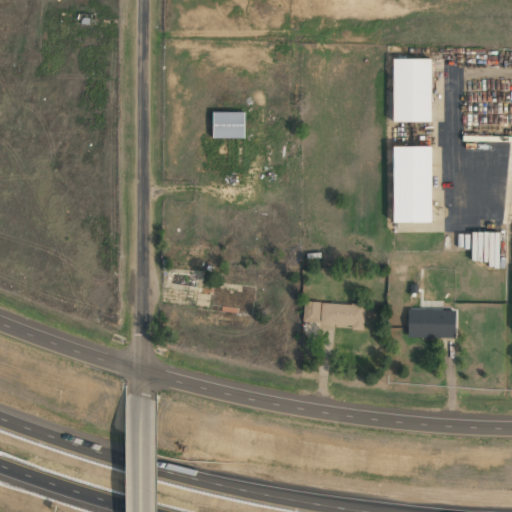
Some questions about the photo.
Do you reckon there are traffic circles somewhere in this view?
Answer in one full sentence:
No, no traffic circle is visible in the scene.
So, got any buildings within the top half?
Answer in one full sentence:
Yes, a building is visible within the top half.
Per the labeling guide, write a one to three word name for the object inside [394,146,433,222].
building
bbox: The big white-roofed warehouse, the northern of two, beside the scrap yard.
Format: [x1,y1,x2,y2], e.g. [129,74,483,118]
[394,58,433,122]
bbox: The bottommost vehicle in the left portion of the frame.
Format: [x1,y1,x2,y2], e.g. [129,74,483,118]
[157,460,198,476]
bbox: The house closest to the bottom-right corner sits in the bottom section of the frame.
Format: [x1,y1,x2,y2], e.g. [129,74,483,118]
[409,307,456,338]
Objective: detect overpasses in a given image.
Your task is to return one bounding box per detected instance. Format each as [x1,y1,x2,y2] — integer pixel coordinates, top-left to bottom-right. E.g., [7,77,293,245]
[114,384,158,512]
